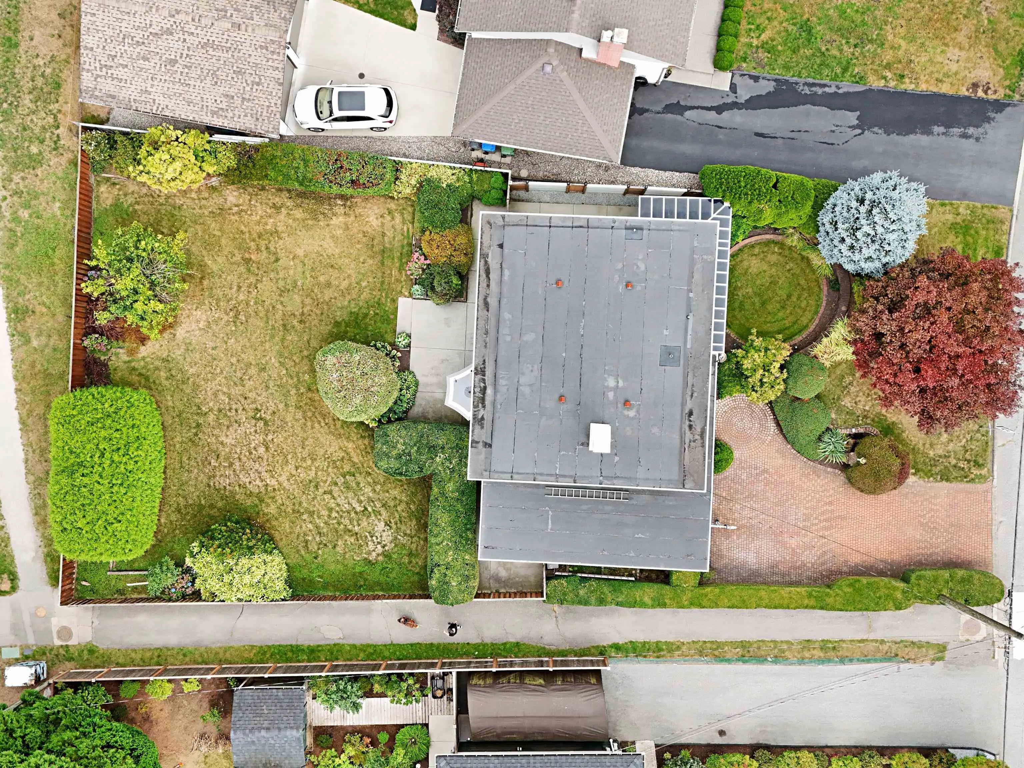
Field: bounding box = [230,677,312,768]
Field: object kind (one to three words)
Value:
shed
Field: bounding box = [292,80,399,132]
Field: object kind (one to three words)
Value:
car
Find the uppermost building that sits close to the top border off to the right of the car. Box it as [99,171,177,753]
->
[448,0,699,169]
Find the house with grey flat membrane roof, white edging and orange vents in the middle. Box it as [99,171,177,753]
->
[466,211,720,573]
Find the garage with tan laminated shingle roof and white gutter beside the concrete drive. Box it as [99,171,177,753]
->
[79,0,309,147]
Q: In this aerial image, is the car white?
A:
Yes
